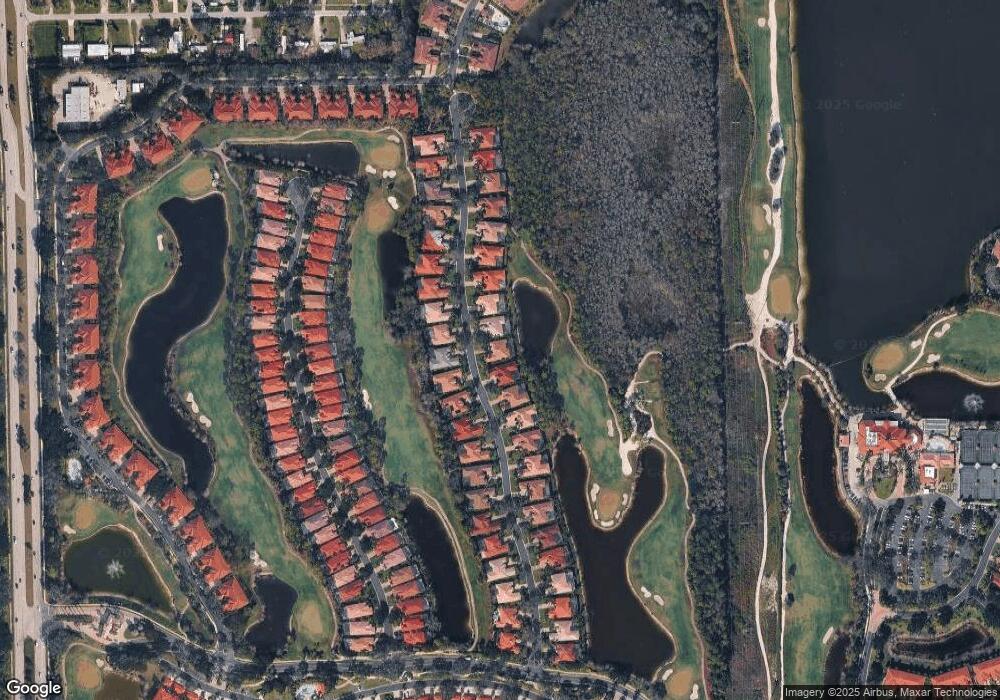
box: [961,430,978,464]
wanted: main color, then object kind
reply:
gray tennis court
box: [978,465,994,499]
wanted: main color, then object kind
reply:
gray tennis court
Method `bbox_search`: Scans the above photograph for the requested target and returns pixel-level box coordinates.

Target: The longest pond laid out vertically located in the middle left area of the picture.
[125,191,229,493]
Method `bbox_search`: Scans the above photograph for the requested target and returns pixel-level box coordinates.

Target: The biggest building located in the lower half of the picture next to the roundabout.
[859,421,927,462]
